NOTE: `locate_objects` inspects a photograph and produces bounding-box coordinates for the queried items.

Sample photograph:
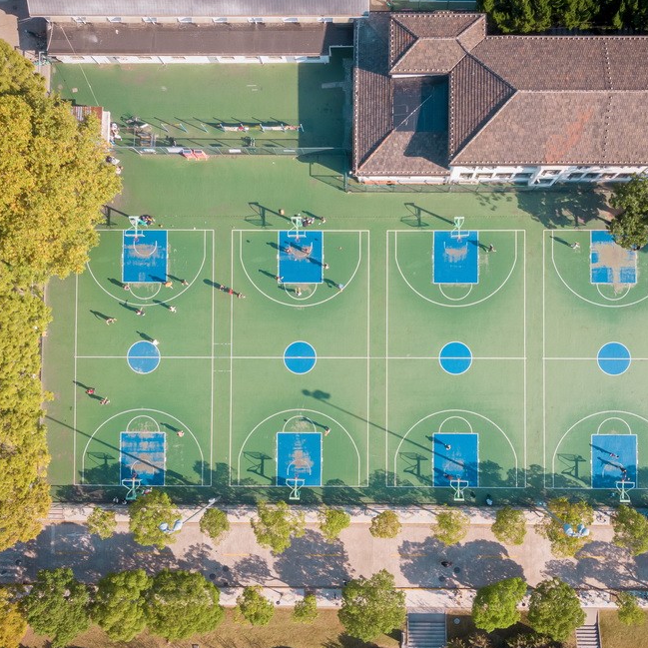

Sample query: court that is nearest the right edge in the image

[541,227,648,491]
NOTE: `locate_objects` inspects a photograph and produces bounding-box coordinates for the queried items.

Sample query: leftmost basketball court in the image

[71,226,218,491]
